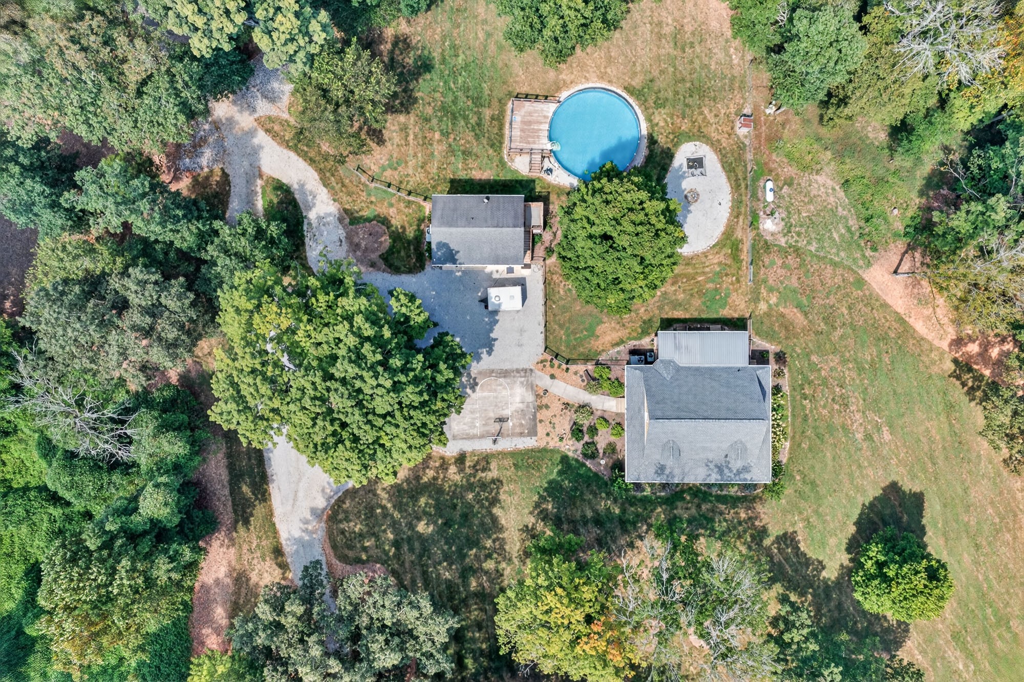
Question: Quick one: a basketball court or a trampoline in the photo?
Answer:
basketball court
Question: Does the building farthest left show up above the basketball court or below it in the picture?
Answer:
above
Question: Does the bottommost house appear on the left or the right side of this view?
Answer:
right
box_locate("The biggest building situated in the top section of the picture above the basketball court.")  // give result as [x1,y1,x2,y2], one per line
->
[430,194,543,269]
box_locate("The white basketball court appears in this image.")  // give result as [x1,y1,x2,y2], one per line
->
[450,369,537,438]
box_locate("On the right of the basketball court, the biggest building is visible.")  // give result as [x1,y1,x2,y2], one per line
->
[624,326,772,483]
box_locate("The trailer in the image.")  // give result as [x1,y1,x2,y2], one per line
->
[479,286,523,312]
